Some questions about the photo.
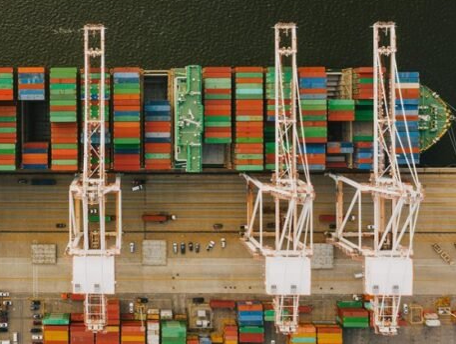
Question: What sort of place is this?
port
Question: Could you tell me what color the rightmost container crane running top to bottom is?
white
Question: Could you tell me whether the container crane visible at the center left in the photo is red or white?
white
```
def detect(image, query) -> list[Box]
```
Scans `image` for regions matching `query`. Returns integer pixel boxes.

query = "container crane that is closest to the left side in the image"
[63,23,129,331]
